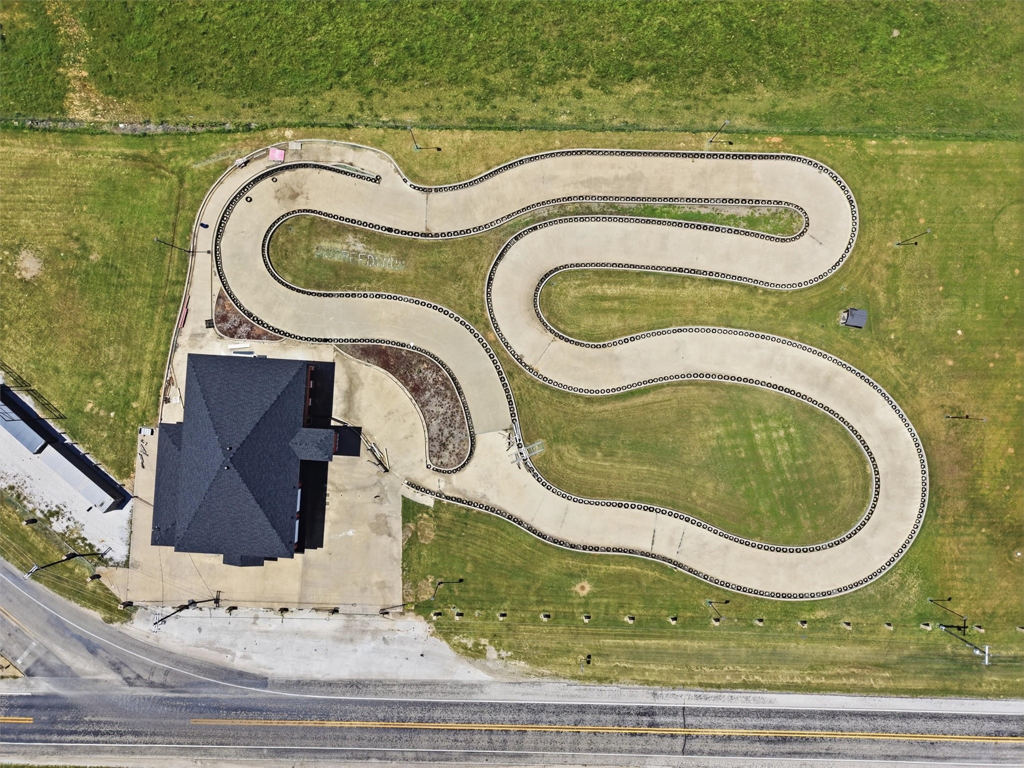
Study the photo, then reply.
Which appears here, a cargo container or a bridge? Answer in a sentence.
The image shows a cargo container.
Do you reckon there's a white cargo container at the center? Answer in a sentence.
No, no white cargo container is visible at the center.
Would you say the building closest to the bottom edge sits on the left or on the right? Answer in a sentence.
The building closest to the bottom edge sits on the left side.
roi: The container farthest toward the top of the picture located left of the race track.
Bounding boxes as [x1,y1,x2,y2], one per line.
[0,390,58,454]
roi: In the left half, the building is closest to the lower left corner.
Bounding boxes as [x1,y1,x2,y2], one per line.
[149,353,339,567]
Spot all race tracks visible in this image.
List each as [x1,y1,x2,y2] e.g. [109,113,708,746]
[221,156,920,592]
